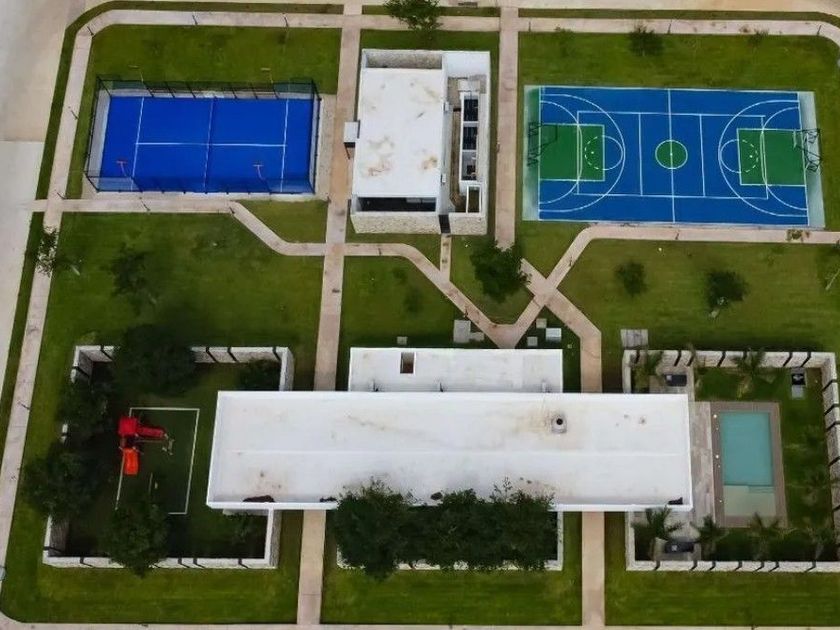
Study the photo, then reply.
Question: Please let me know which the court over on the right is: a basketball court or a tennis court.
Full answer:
From above, the court over on the right can be identified as a basketball court.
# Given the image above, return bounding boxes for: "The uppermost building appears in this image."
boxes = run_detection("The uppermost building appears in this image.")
[350,49,491,234]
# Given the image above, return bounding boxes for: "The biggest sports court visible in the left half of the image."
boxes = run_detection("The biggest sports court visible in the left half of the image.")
[79,76,336,203]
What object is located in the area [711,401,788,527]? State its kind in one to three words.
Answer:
swimming pool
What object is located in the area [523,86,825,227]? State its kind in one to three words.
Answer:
basketball court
